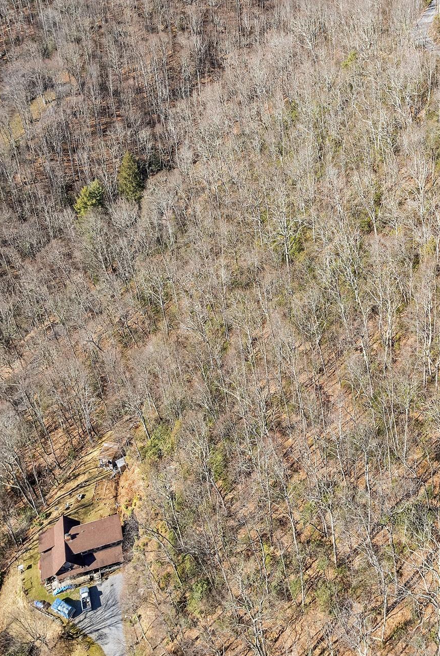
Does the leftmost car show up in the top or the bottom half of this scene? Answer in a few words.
bottom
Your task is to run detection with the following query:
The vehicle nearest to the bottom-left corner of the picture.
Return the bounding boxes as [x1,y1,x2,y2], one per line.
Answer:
[49,594,76,619]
